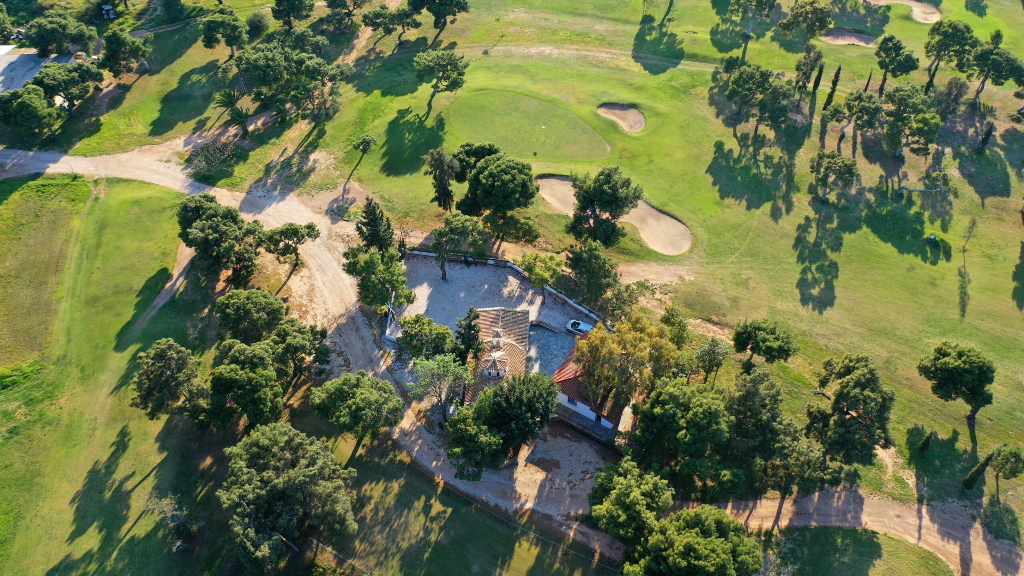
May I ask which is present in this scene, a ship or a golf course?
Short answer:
golf course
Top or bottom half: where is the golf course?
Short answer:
top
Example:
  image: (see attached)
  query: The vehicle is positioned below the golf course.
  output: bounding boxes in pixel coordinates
[565,321,590,338]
